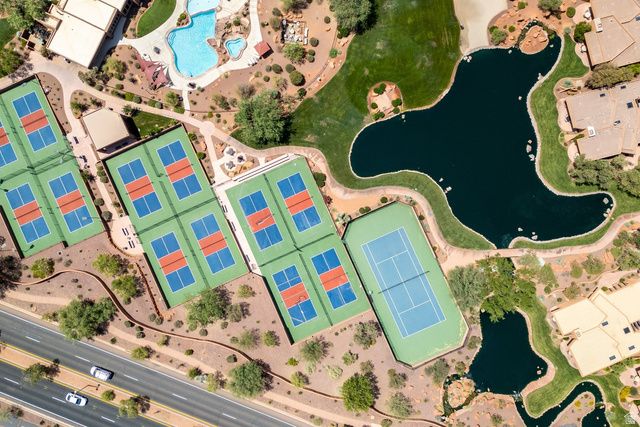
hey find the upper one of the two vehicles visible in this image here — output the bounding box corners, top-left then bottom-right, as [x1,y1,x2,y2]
[91,366,112,381]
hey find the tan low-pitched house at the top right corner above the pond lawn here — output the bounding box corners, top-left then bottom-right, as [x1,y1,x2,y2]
[583,0,640,68]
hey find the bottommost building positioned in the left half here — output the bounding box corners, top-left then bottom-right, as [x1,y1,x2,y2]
[82,108,136,156]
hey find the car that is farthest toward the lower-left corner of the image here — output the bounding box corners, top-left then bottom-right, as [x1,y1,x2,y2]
[66,391,89,406]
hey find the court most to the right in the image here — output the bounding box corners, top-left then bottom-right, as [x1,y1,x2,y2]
[344,203,468,366]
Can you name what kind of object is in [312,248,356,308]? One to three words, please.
sports court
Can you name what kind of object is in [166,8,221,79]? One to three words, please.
swimming pool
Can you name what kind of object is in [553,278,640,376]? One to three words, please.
house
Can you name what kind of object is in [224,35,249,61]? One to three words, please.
swimming pool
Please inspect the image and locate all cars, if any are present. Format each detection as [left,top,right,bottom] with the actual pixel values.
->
[91,366,112,381]
[66,391,89,406]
